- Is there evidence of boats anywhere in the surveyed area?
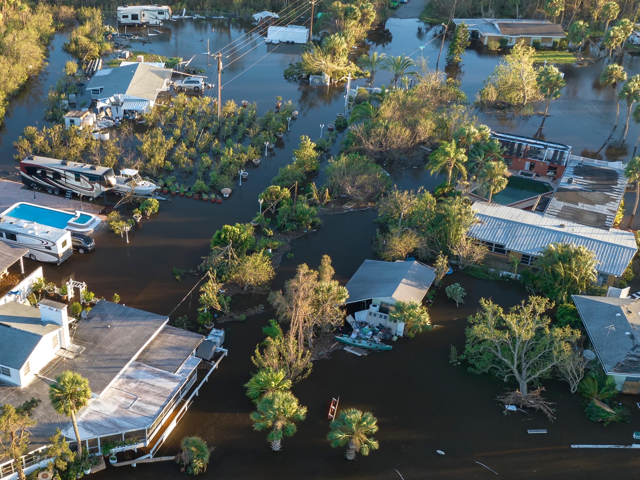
Yes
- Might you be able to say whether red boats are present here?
No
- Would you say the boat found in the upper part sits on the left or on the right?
left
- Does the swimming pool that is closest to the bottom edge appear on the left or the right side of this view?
left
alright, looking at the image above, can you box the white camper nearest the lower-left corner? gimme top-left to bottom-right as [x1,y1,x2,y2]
[0,215,73,265]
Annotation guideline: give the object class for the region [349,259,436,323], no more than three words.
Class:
house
